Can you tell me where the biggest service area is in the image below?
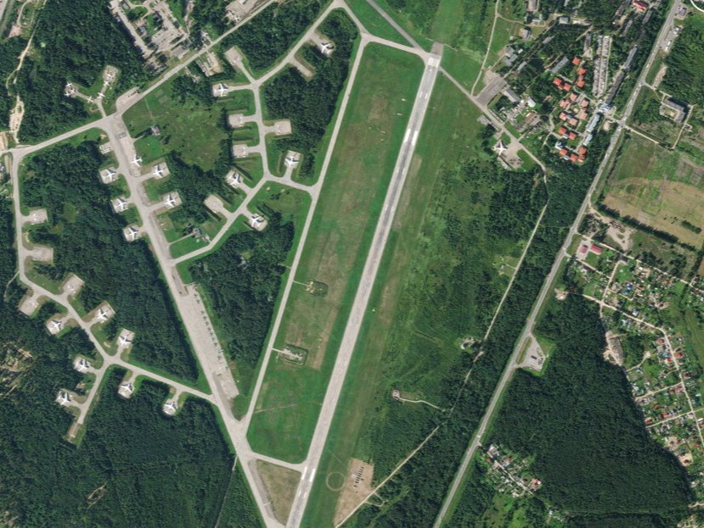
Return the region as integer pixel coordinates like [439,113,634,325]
[513,330,545,371]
